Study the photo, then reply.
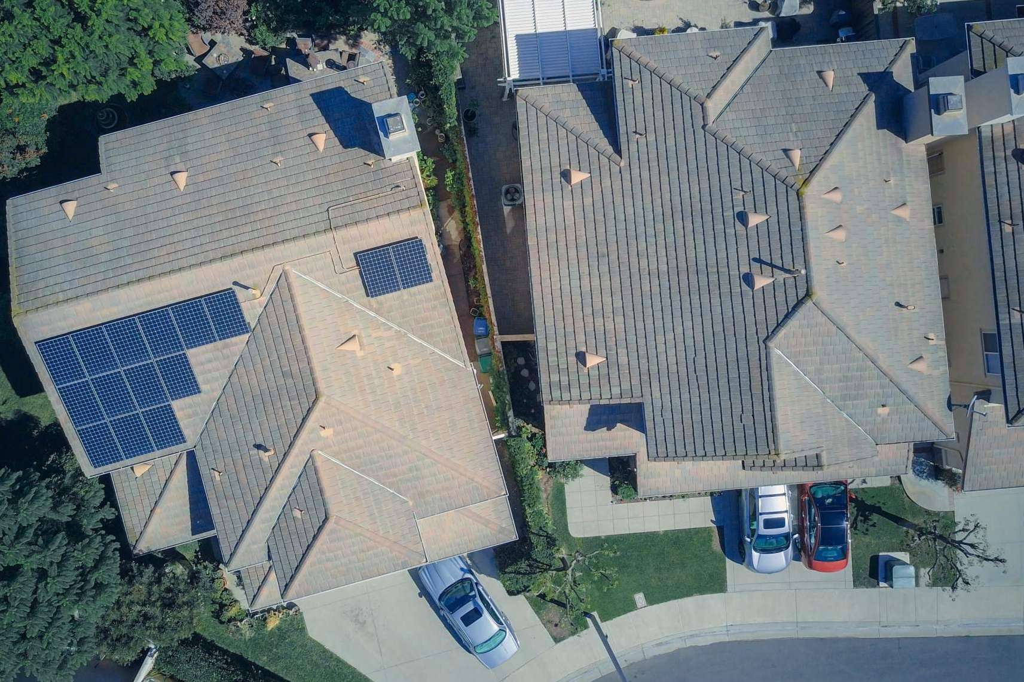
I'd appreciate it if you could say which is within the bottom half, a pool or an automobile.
automobile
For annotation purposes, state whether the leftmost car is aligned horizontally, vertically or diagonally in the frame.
diagonally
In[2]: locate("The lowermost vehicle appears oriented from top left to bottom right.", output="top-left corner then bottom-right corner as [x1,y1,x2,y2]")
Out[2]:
[426,555,516,665]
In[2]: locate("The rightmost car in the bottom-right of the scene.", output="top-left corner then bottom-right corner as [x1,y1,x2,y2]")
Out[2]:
[796,480,853,573]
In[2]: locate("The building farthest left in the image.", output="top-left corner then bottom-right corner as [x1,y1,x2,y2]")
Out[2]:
[4,59,520,613]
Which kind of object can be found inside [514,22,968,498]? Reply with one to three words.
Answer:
house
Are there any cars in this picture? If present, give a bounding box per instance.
[426,555,516,665]
[796,480,853,573]
[740,485,798,575]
